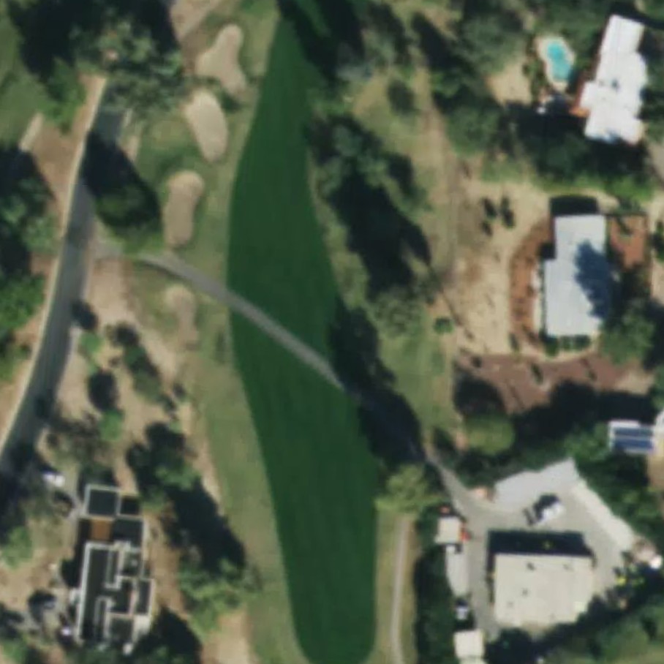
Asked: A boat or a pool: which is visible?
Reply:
pool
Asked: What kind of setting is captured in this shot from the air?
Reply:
golf course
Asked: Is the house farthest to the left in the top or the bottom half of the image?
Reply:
bottom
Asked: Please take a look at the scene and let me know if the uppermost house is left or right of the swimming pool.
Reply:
to the right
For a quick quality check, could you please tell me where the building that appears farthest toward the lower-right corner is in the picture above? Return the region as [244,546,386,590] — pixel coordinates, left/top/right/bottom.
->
[495,558,594,627]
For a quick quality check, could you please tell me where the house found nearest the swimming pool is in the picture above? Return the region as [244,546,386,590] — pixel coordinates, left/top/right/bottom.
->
[569,16,648,144]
